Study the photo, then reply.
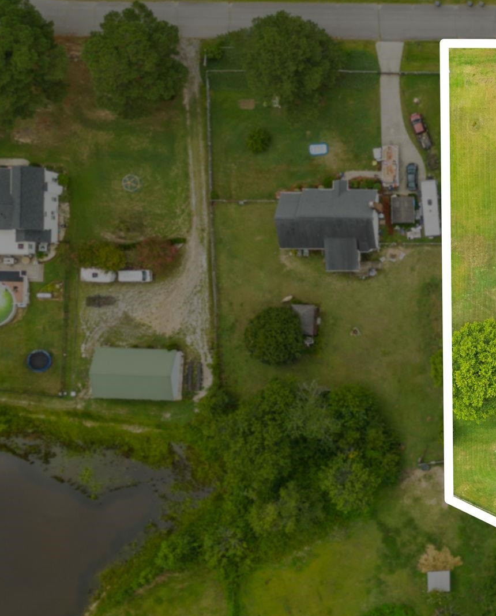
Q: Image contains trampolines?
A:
Yes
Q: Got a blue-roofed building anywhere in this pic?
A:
No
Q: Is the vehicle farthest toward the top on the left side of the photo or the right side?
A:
right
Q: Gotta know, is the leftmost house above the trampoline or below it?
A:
above it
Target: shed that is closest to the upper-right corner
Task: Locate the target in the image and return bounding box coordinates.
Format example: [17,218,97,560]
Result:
[391,195,415,224]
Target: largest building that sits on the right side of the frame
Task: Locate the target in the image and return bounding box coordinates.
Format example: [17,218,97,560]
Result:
[275,179,384,271]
